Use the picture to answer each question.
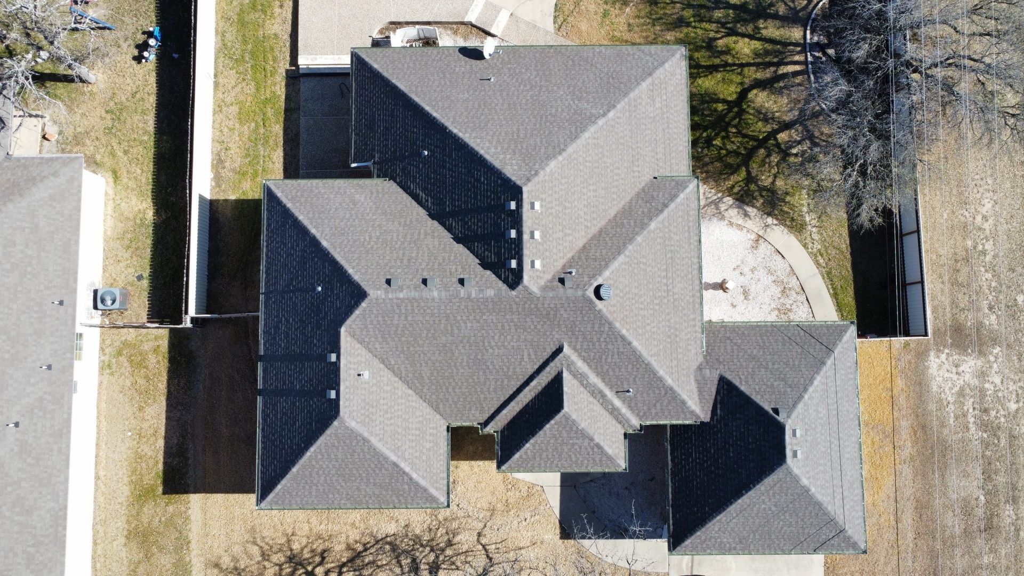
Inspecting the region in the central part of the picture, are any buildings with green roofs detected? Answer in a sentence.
No, no building with a green roof appears in the central part of the picture.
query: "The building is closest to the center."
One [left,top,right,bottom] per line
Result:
[253,42,869,558]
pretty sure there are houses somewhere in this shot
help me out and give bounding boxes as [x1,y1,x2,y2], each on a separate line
[0,93,105,576]
[253,42,869,558]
